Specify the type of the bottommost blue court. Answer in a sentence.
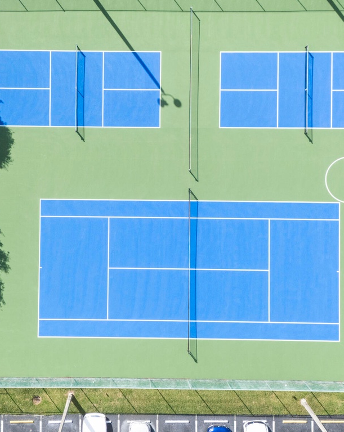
I'd identify the bottommost blue court as a tennis court.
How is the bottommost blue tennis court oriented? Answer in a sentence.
The bottommost blue tennis court has been laid out from side to side relative to the frame.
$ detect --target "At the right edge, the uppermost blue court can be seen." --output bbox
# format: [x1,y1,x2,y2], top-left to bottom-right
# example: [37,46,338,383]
[219,51,344,129]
